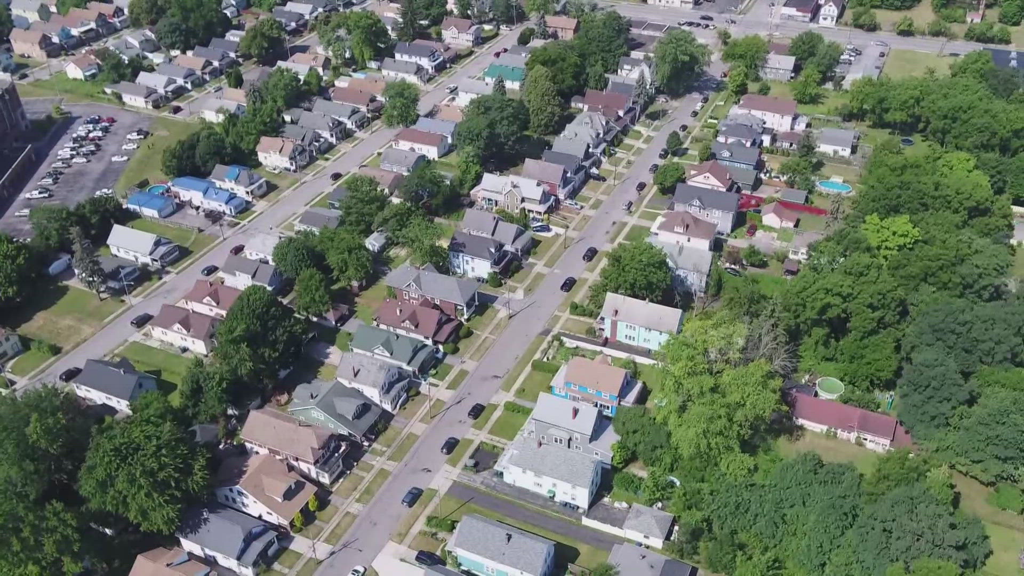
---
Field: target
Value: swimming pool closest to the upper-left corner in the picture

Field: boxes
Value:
[146,184,169,196]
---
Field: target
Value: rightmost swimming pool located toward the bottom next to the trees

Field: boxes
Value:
[815,377,845,399]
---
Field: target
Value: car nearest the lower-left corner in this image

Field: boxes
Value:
[57,363,81,384]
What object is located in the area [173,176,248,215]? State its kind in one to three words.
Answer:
house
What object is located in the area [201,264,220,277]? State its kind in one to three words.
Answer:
vehicle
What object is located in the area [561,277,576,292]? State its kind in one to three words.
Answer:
car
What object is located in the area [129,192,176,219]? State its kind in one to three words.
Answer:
building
